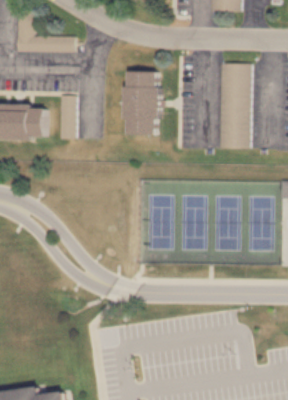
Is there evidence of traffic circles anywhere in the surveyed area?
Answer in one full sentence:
No, I find no traffic circle anywhere in the image.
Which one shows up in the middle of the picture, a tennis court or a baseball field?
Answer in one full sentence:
There is a tennis court in the middle of the picture.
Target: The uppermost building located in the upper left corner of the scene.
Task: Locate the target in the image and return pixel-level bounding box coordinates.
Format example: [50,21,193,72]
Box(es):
[18,6,78,52]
